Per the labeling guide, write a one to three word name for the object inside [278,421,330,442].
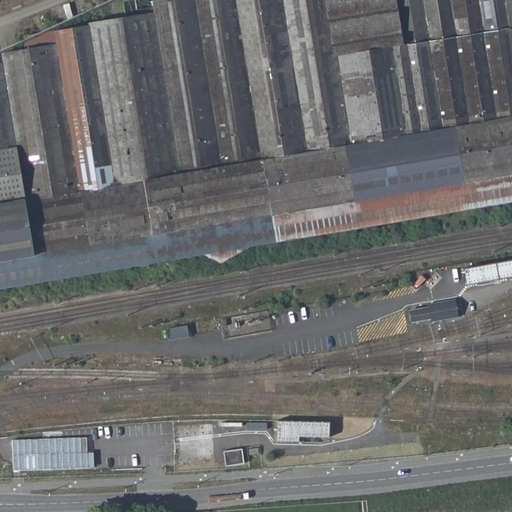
building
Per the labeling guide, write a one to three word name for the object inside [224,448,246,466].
building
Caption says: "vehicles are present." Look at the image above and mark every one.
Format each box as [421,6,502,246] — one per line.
[208,492,249,502]
[470,300,476,312]
[289,311,295,323]
[398,470,408,475]
[132,454,137,466]
[302,307,307,319]
[93,428,98,439]
[118,426,124,436]
[328,336,334,348]
[104,426,110,438]
[453,268,460,282]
